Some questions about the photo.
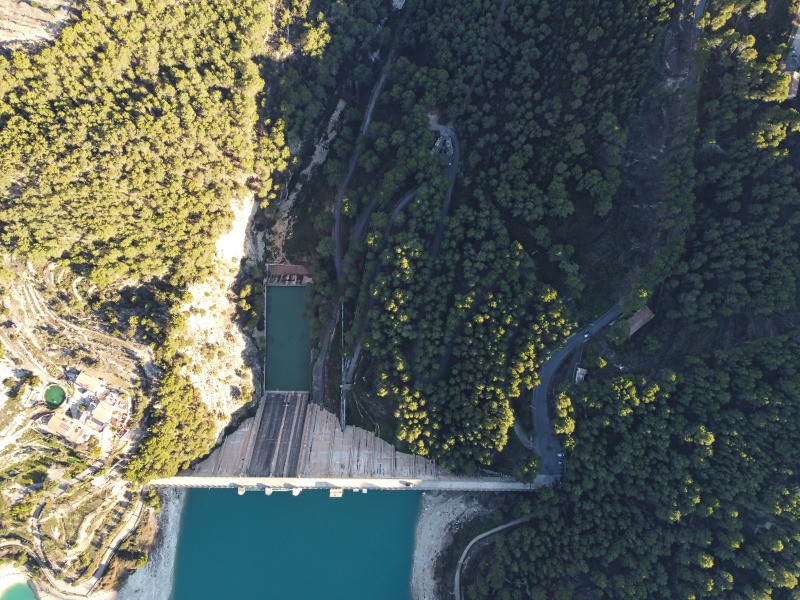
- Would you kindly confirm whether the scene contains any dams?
Yes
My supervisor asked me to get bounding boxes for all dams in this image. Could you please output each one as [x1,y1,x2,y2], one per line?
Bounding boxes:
[148,391,548,498]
